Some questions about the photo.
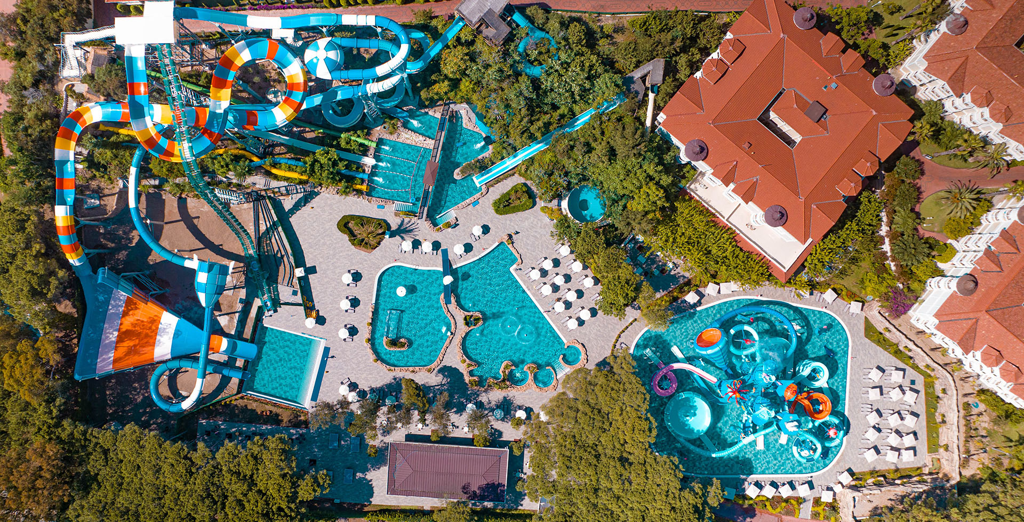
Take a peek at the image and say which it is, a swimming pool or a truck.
swimming pool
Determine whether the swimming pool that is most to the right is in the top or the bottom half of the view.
bottom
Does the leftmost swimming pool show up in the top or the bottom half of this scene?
bottom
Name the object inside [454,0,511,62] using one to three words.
shed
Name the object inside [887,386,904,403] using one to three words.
umbrella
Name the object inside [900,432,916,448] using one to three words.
umbrella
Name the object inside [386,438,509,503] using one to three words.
building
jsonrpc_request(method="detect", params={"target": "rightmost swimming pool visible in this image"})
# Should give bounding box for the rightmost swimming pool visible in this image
[634,300,846,472]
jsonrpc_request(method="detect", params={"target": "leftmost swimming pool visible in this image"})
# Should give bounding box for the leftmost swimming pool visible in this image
[247,327,321,406]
